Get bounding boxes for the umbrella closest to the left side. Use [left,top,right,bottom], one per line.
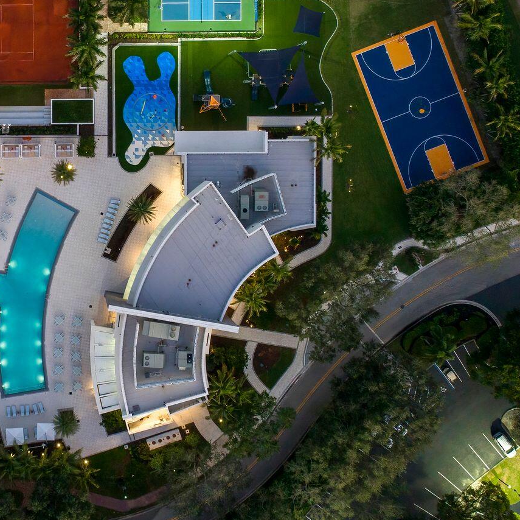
[6,426,23,445]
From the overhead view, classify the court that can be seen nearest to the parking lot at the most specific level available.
basketball court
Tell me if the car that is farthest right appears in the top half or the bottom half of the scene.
bottom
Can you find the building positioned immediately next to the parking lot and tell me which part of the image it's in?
center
